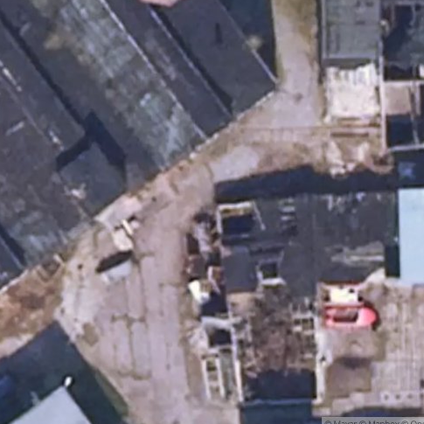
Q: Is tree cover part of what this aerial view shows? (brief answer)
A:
No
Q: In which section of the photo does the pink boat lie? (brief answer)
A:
bottom right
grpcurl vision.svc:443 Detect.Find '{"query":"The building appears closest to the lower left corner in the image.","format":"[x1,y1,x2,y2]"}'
[6,386,92,424]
